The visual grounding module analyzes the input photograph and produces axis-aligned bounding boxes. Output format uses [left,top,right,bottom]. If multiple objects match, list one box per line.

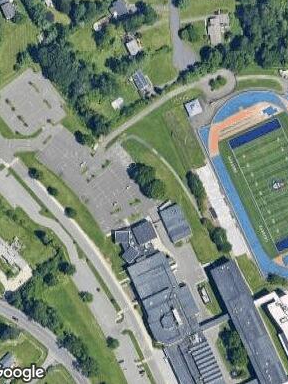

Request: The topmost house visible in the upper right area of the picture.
[201,14,225,44]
